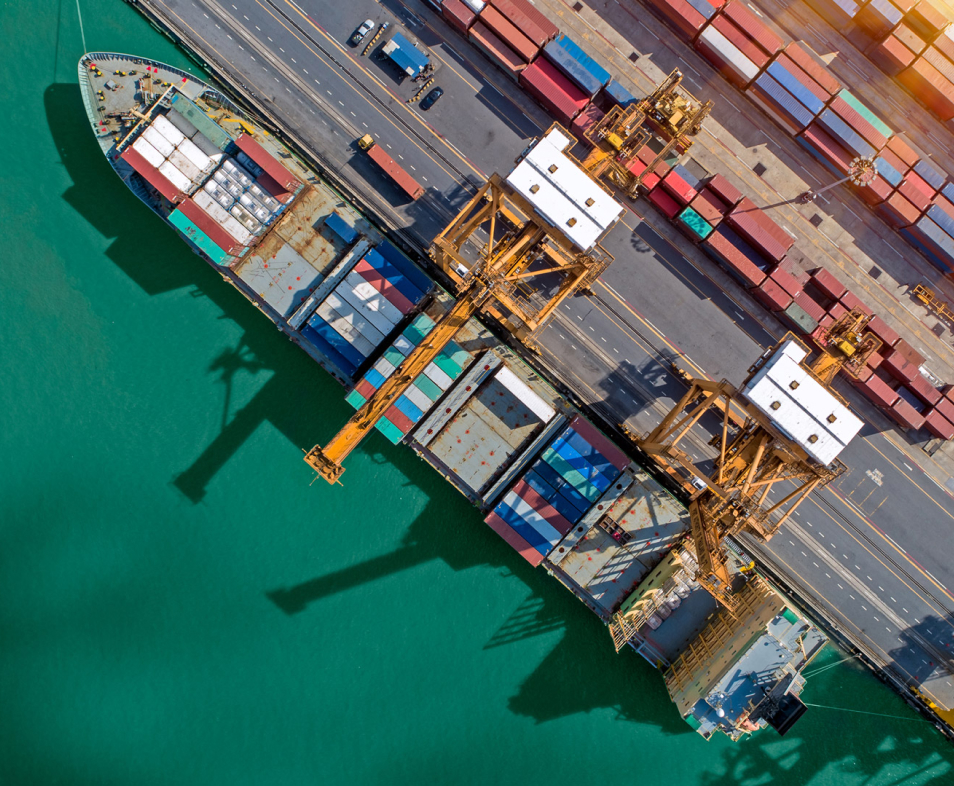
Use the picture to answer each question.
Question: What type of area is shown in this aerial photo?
port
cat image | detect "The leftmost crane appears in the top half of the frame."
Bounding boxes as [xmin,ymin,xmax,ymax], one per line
[303,101,652,487]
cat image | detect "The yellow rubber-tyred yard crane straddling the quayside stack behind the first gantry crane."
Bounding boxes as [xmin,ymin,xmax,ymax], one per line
[616,66,715,202]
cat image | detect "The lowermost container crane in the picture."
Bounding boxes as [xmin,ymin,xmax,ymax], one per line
[917,692,954,731]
